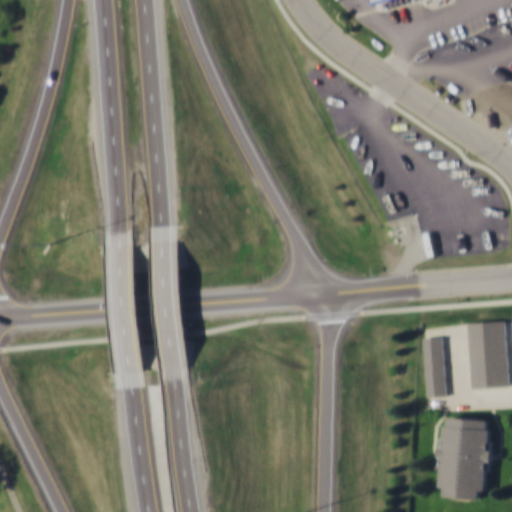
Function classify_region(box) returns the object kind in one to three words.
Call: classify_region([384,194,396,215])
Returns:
vehicle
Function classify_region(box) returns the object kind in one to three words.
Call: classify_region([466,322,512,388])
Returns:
building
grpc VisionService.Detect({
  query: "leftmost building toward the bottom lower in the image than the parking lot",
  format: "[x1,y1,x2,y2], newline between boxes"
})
[424,337,447,396]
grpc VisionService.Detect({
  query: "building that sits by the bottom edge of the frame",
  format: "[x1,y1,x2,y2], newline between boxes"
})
[434,419,490,499]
